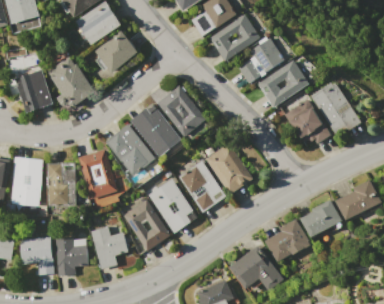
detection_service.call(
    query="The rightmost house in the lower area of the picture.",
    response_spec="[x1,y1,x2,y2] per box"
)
[336,180,382,220]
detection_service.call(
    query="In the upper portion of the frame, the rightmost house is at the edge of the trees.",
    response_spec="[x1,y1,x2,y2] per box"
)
[312,82,362,134]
